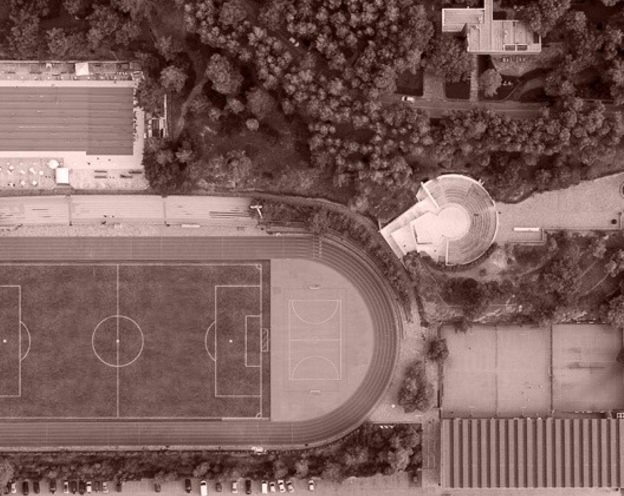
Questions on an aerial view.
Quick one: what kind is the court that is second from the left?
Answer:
tennis court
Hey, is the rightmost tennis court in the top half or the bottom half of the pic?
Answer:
bottom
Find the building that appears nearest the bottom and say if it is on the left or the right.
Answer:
right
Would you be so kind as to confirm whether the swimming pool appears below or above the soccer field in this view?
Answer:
above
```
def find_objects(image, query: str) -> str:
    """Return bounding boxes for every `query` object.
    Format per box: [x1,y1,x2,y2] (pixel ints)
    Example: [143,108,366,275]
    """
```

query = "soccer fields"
[0,259,270,423]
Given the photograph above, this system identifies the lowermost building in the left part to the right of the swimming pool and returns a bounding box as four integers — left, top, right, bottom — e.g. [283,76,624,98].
[149,118,168,140]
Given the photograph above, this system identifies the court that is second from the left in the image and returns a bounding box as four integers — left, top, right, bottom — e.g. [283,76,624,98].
[443,325,497,417]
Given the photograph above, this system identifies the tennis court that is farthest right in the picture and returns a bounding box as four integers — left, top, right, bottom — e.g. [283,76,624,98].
[553,325,624,413]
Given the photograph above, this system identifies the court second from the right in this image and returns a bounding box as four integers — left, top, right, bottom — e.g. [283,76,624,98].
[497,325,551,417]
